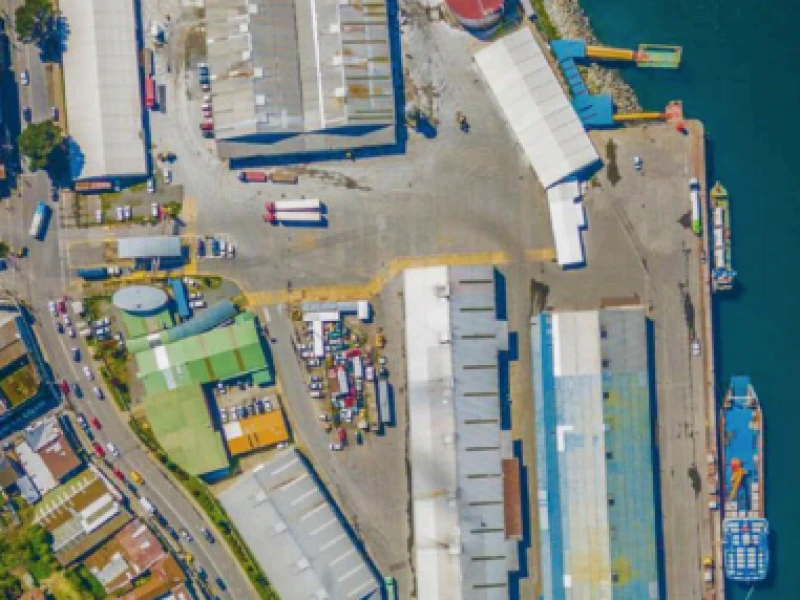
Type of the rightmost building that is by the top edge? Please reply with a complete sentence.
The rightmost building that is by the top edge is a warehouse.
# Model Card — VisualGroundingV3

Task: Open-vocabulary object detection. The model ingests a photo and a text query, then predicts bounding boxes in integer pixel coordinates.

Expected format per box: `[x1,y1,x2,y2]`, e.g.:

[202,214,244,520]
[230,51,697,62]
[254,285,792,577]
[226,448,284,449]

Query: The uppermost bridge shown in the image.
[586,43,634,59]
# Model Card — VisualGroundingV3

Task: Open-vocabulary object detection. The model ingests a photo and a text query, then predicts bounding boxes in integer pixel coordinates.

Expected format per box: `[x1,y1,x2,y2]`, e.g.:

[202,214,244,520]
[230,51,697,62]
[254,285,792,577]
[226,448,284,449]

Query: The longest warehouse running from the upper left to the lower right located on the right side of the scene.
[473,27,602,188]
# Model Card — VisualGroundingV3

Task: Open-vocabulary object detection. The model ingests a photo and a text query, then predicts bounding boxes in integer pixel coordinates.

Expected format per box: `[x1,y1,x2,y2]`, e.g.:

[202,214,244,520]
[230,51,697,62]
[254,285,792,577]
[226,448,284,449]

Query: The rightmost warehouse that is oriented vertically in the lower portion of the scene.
[530,306,660,600]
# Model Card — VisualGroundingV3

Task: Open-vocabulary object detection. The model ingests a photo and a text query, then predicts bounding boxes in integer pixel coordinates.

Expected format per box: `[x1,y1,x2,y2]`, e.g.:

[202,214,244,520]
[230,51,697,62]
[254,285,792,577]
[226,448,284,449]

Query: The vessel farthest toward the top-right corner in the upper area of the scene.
[702,177,740,296]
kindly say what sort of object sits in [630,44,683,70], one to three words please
pier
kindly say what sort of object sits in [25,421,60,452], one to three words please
house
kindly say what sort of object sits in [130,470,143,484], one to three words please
vehicle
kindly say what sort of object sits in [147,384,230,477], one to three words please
building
